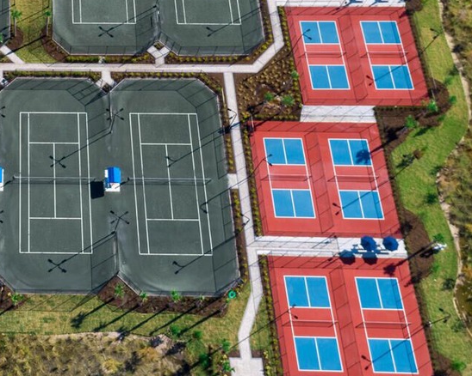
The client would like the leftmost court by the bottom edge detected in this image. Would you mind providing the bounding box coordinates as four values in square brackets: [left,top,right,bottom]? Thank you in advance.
[269,256,359,376]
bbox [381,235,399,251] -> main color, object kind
blue umbrella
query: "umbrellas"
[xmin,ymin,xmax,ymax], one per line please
[358,235,375,250]
[381,235,399,251]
